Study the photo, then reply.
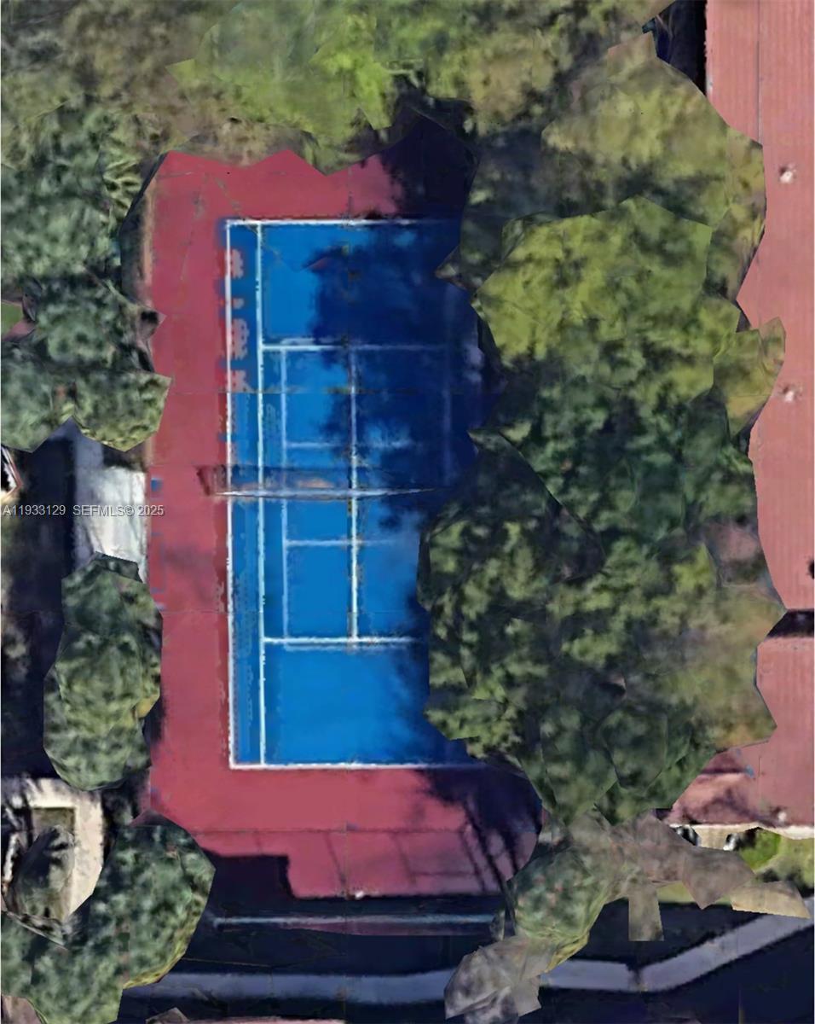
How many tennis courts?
1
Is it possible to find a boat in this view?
No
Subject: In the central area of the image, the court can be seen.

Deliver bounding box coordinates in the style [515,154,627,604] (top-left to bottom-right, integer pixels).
[149,101,560,937]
